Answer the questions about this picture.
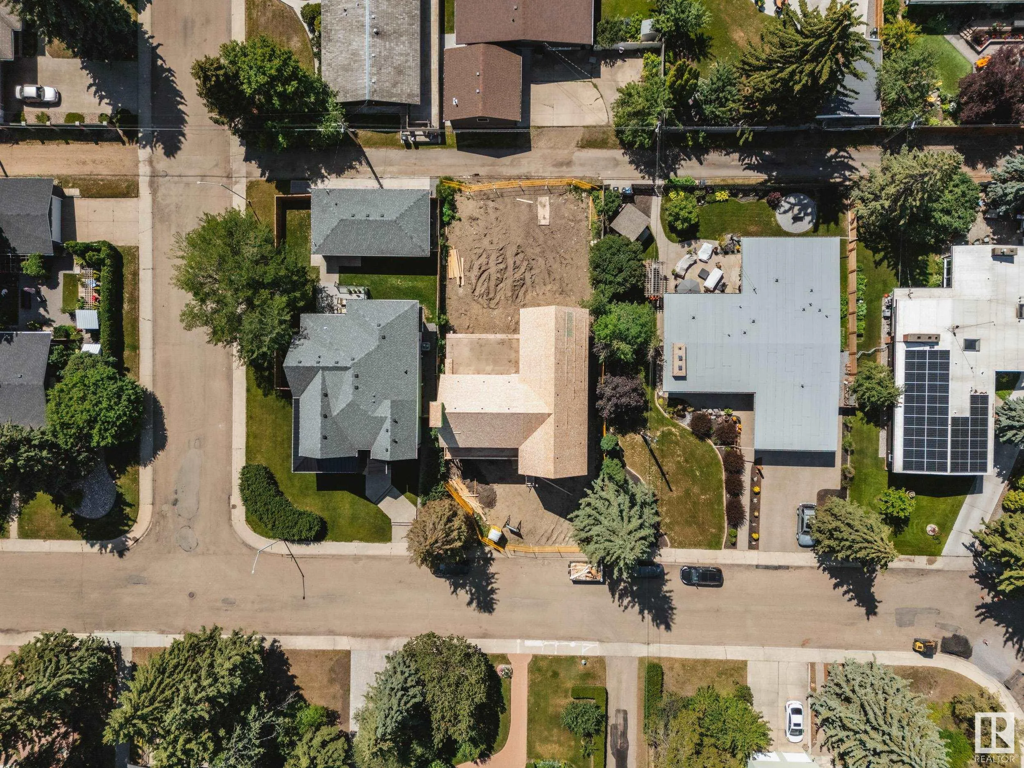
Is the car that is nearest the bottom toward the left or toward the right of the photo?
right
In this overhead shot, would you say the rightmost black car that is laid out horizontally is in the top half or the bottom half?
bottom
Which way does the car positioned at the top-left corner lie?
from left to right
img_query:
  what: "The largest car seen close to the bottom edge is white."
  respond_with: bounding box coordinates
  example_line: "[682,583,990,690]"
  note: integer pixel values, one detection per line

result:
[784,699,807,744]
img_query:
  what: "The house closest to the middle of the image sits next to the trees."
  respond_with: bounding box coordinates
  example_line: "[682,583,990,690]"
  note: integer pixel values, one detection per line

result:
[430,306,589,479]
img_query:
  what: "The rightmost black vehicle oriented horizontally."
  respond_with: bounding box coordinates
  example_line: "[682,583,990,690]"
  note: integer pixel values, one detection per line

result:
[678,565,725,588]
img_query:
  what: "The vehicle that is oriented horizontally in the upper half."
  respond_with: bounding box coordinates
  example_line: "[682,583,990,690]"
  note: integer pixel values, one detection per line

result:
[14,83,60,105]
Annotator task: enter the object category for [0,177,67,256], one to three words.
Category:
building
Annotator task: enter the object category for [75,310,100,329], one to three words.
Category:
shed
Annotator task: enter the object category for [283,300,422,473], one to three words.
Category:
house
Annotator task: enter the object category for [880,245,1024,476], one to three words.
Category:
house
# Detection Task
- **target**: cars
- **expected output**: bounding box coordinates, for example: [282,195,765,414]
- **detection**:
[622,560,665,582]
[796,502,819,546]
[14,83,60,105]
[678,565,725,588]
[429,560,472,581]
[784,699,807,744]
